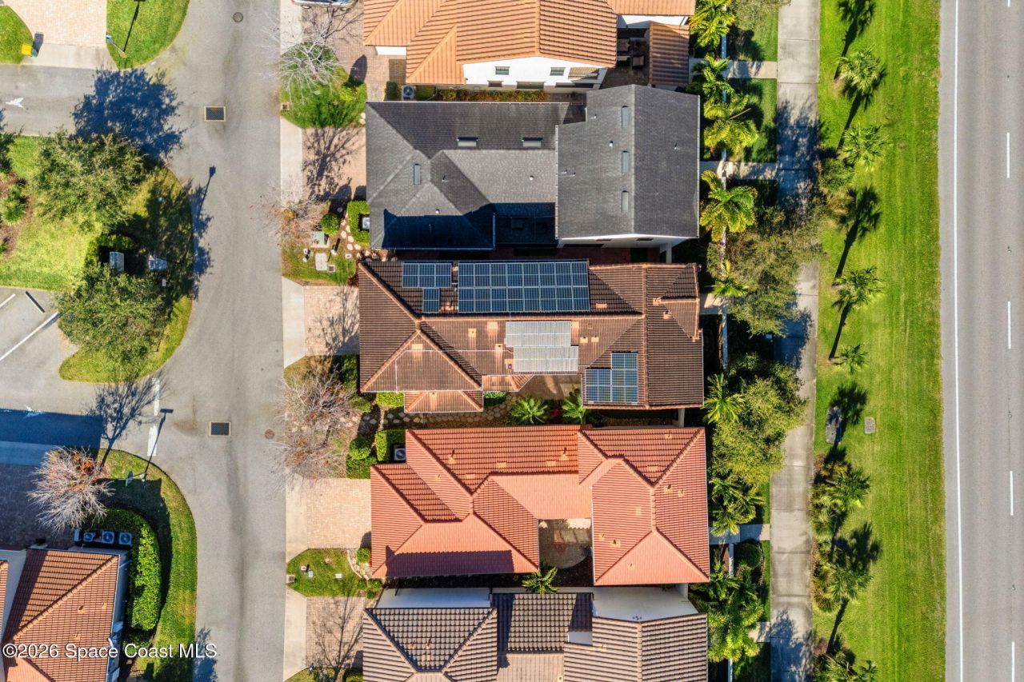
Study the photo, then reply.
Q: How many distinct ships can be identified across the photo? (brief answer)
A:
0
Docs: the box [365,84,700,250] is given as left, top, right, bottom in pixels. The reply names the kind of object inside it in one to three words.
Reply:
house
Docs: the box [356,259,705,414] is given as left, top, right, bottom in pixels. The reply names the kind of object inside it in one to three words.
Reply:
house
